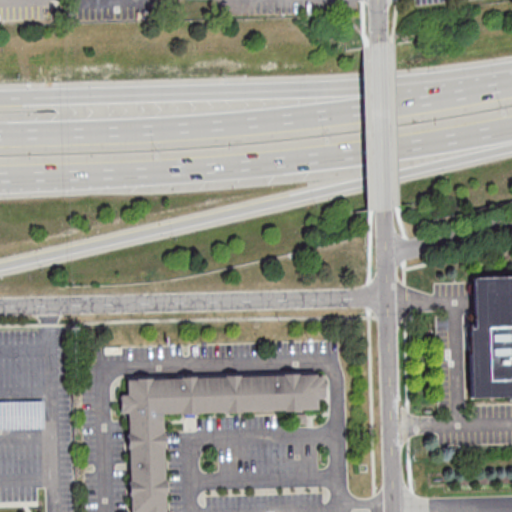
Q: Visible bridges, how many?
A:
1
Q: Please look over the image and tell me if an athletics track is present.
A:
No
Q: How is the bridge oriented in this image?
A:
up and down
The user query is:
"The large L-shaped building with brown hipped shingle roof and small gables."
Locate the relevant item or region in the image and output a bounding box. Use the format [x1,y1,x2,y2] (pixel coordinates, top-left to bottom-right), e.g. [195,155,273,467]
[124,373,327,512]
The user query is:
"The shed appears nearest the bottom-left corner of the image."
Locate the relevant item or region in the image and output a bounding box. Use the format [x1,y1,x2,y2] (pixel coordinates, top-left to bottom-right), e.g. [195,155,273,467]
[0,402,46,430]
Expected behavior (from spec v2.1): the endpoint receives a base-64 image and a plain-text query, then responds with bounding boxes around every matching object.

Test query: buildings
[472,277,512,400]
[0,402,46,430]
[124,373,327,512]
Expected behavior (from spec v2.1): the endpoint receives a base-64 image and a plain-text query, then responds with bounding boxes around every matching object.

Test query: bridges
[350,42,414,212]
